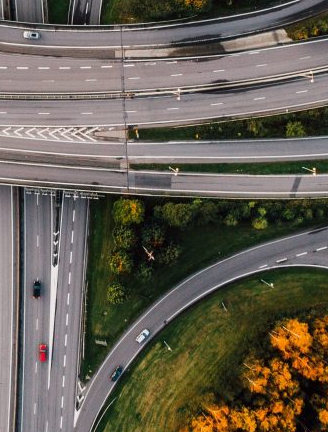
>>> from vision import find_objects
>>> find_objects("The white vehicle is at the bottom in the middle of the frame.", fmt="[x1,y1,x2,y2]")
[135,328,150,343]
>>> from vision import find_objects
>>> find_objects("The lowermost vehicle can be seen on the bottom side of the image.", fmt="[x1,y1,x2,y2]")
[110,365,123,381]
